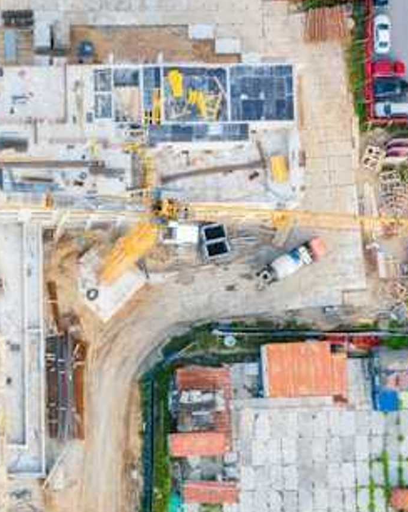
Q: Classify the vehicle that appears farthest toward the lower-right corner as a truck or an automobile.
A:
truck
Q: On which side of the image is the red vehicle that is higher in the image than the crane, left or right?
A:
right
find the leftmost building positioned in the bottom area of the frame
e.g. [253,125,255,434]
[0,207,138,475]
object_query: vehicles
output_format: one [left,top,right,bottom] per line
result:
[259,229,337,288]
[376,13,396,52]
[377,55,408,76]
[377,74,408,96]
[377,97,408,117]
